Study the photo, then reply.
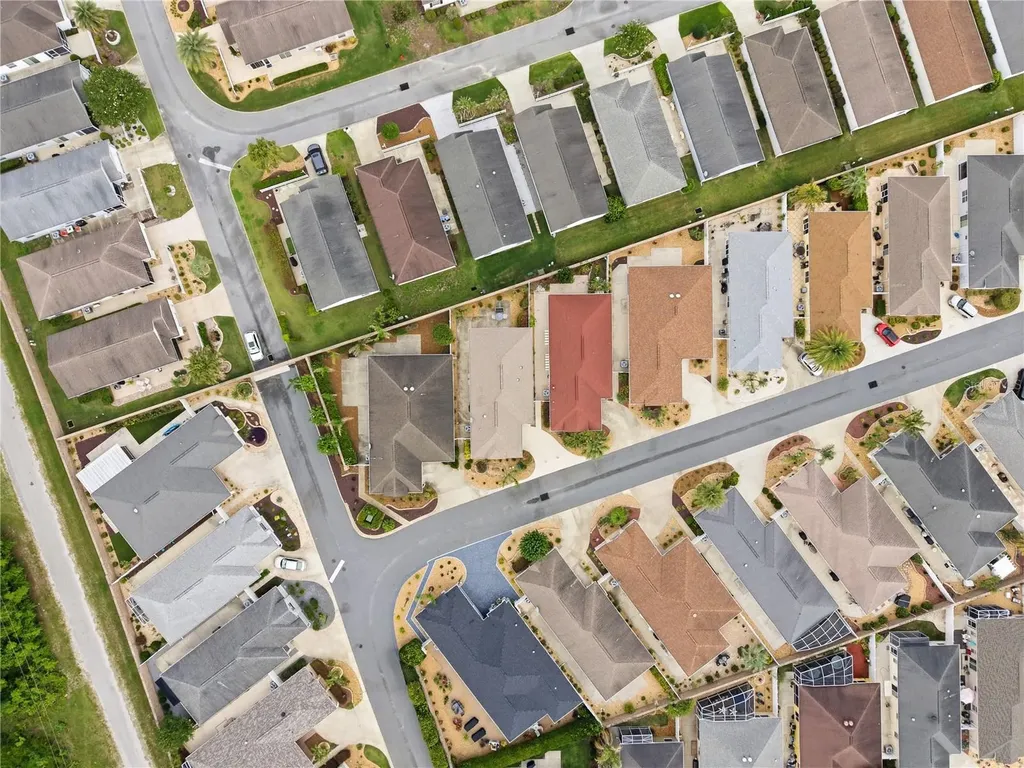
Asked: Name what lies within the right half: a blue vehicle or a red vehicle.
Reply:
red vehicle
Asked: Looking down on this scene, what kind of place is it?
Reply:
residential area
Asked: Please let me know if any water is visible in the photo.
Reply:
No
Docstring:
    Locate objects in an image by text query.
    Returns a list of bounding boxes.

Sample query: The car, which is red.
[873,321,902,348]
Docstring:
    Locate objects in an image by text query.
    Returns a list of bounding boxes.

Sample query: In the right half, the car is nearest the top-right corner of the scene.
[947,294,979,319]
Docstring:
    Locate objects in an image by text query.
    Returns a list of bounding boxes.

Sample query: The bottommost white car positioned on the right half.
[797,349,824,378]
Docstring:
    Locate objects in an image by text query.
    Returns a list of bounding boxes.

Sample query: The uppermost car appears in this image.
[308,143,330,176]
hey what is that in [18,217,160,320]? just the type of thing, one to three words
house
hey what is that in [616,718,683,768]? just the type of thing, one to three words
house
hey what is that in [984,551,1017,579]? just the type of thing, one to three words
tent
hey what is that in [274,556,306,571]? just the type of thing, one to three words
car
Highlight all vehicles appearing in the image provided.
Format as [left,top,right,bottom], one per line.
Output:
[1014,367,1024,399]
[797,349,824,378]
[274,556,306,571]
[947,294,979,319]
[873,321,902,348]
[308,143,330,176]
[243,330,266,362]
